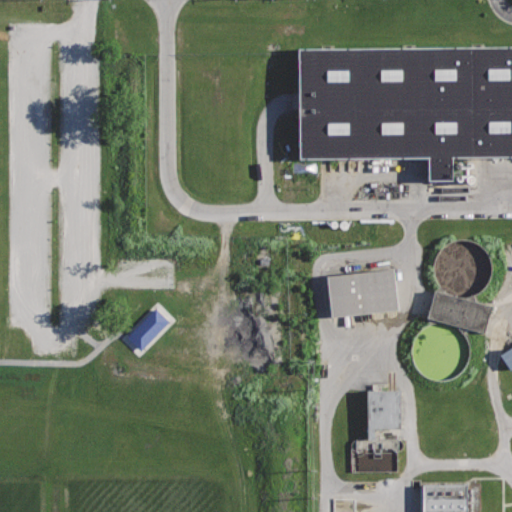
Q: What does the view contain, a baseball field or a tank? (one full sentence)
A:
Looking from above, you can make out a tank.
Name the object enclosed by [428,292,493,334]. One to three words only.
building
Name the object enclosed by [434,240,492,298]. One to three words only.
storage tank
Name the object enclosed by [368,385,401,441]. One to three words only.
building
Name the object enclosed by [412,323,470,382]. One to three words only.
storage tank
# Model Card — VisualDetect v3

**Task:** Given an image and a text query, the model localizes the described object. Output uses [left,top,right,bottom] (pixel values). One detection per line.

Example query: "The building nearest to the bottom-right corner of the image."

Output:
[423,484,468,512]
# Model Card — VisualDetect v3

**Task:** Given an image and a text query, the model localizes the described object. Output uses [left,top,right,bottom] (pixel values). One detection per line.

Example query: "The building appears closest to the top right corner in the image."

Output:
[300,46,512,182]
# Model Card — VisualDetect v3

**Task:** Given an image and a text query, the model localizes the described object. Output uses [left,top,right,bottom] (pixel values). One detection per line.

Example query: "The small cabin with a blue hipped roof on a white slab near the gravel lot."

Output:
[122,302,176,358]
